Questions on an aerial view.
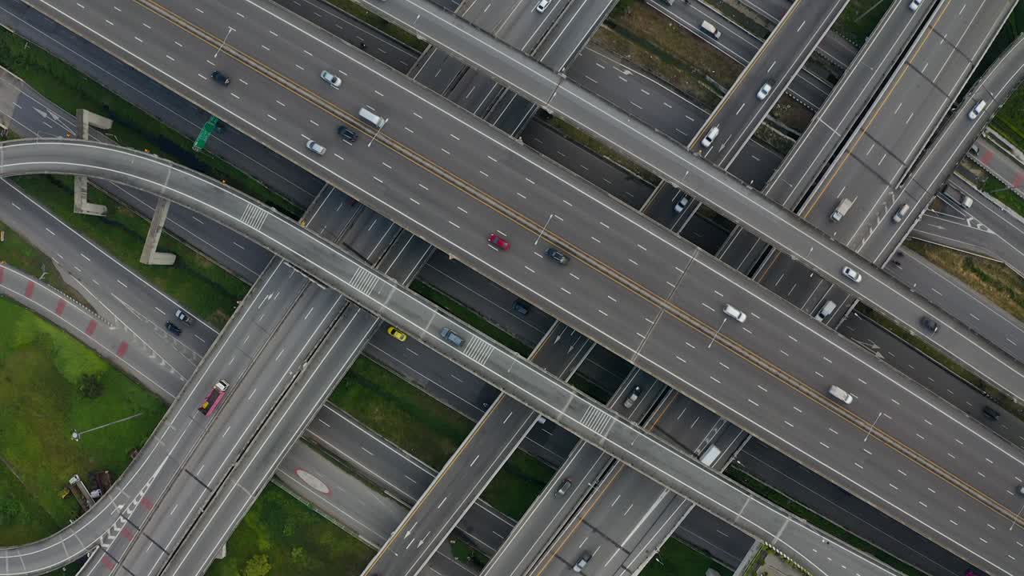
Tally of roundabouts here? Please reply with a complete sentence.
There are no roundabouts in the image.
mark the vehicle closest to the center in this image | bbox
[511,298,532,315]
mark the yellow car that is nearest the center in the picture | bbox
[386,325,407,341]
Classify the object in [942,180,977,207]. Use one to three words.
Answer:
truck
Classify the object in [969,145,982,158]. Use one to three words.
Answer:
vehicle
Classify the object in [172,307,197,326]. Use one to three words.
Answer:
vehicle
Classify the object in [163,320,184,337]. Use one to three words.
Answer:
car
